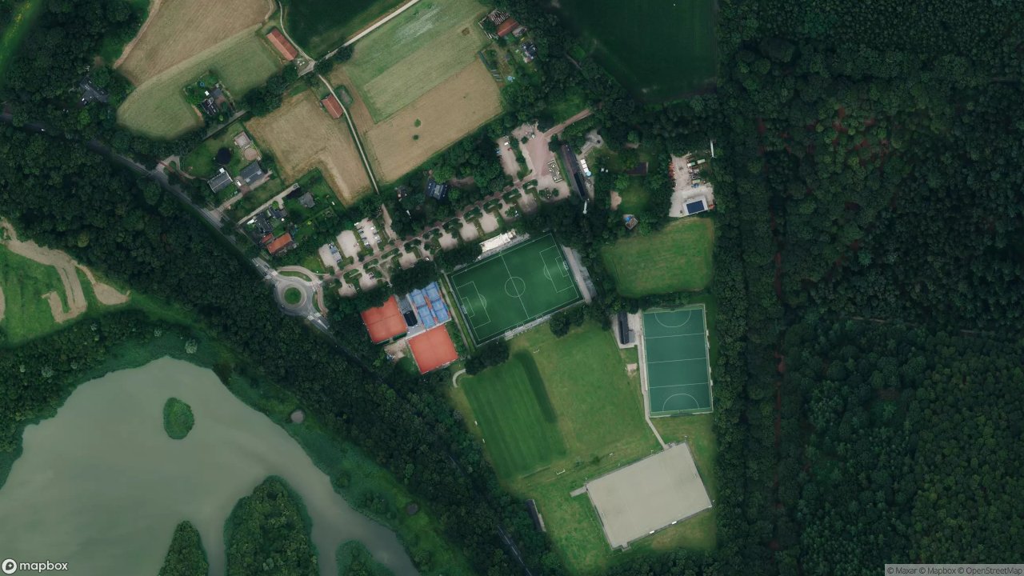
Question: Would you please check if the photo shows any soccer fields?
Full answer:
Yes, there's a soccer field down there.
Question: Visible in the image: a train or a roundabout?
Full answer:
This aerial view contains a roundabout.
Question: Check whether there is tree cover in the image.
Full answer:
Yes, the picture does contain tree cover.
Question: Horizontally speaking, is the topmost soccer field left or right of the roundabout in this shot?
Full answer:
The topmost soccer field can be seen on the right of the roundabout.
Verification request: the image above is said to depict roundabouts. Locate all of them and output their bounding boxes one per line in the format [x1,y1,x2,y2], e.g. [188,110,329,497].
[253,253,336,338]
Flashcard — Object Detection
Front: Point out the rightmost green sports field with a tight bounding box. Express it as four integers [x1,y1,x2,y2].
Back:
[641,305,713,417]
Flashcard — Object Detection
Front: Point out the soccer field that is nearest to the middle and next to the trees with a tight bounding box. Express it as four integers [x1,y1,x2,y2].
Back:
[443,228,586,348]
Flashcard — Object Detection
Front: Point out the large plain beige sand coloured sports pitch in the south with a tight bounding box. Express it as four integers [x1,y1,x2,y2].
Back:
[584,441,712,548]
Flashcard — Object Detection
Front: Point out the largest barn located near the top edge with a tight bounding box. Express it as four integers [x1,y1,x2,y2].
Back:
[267,28,298,61]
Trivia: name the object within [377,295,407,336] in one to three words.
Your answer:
tennis court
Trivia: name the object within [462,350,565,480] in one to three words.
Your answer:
sports field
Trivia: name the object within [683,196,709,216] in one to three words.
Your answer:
building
